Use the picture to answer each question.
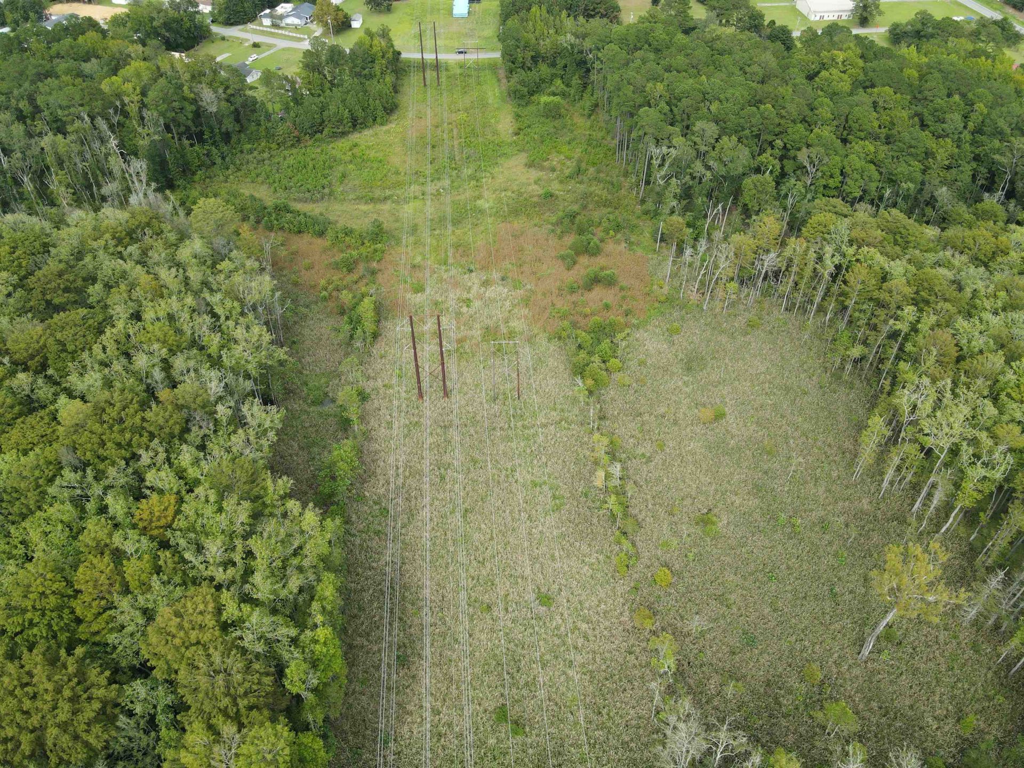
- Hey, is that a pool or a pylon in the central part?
pylon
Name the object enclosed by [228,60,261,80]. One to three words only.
house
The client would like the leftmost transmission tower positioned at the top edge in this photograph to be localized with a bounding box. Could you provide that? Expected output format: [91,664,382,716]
[416,24,443,86]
